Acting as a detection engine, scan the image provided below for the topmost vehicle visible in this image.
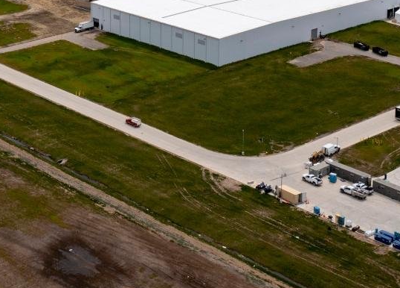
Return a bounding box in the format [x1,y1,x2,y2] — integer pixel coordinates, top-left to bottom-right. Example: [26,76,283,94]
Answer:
[73,19,97,33]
